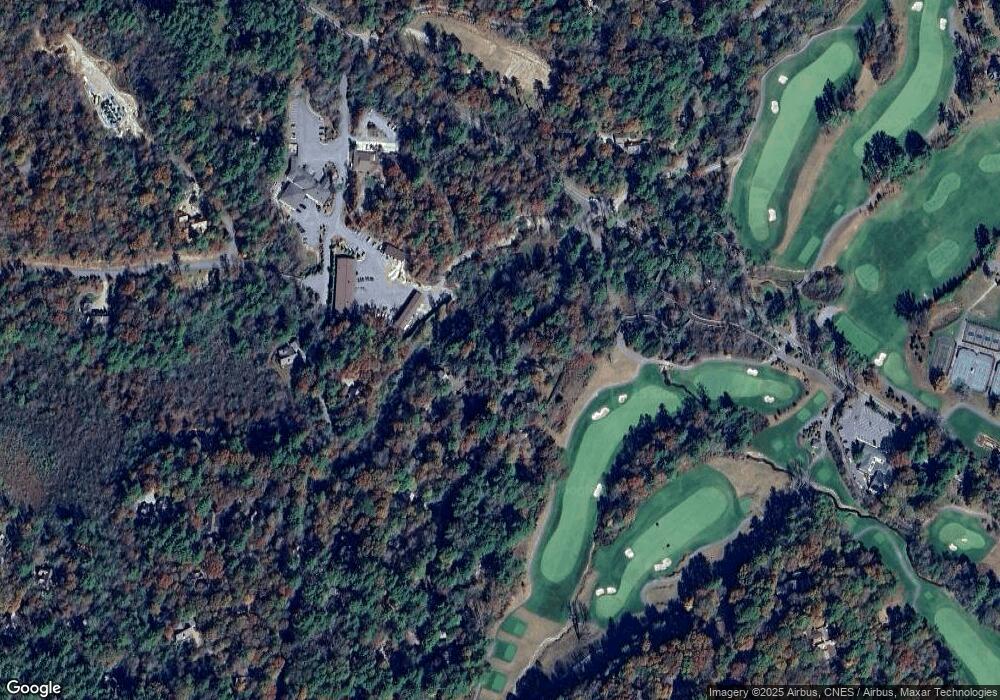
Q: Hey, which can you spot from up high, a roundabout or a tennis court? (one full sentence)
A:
This aerial view contains a tennis court.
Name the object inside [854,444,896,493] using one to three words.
building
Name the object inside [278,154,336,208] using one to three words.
building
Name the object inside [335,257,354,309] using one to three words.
barn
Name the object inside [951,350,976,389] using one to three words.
tennis court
